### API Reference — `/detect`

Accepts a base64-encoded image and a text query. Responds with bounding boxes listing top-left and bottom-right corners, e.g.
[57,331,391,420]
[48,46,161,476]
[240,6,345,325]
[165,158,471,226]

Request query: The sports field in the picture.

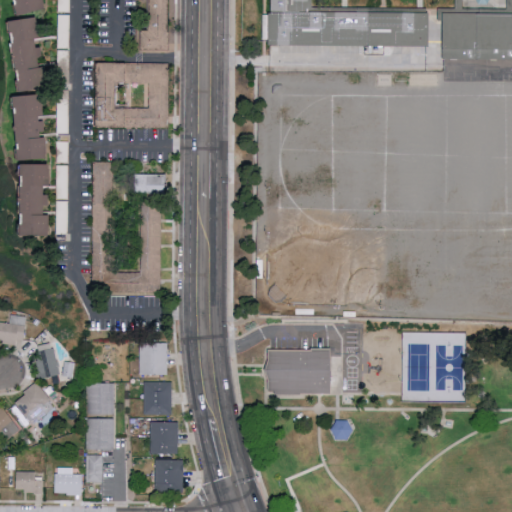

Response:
[258,71,512,320]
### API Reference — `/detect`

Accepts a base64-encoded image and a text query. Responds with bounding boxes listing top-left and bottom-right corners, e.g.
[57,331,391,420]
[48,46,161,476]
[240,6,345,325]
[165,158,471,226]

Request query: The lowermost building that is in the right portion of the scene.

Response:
[331,420,354,441]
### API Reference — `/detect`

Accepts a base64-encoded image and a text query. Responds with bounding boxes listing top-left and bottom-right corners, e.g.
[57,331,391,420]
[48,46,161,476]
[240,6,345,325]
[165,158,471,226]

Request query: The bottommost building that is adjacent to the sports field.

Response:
[264,348,330,395]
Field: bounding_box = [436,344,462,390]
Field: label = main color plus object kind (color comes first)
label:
blue basketball court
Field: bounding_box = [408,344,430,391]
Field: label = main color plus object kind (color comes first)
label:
blue tennis court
